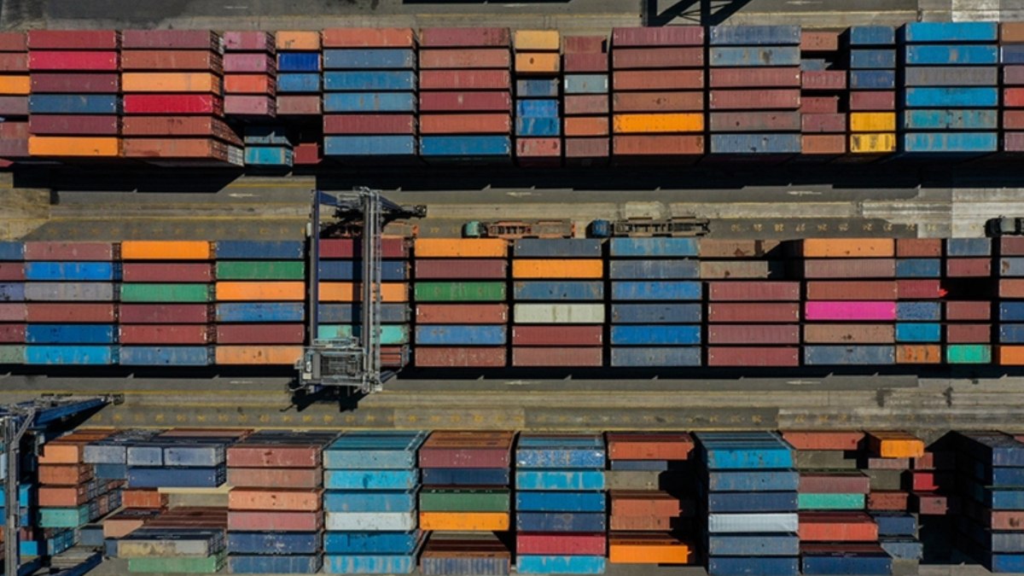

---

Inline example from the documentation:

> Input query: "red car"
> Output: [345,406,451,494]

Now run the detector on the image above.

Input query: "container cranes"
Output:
[294,183,430,396]
[0,392,121,576]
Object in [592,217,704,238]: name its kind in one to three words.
truck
